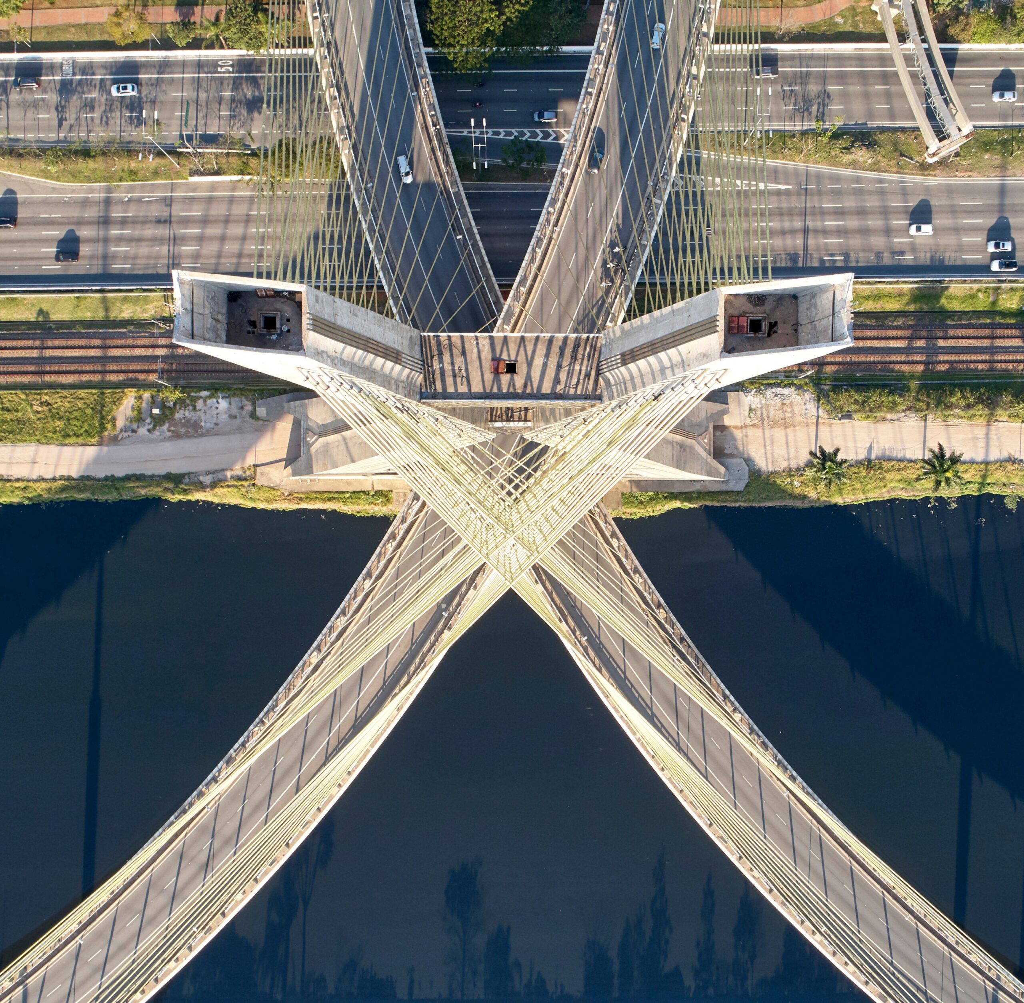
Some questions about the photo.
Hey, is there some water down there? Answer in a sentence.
Yes, there's water in this view.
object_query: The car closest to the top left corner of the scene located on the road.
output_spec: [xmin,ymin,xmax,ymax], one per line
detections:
[13,75,41,90]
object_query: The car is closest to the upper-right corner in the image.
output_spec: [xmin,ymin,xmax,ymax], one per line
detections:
[990,90,1018,103]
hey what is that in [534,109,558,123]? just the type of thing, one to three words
car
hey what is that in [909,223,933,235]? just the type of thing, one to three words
vehicle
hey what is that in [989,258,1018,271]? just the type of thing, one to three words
vehicle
